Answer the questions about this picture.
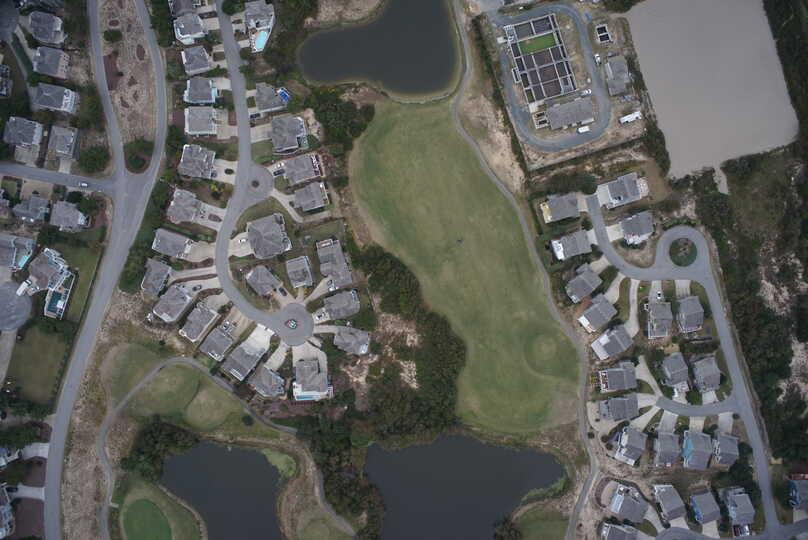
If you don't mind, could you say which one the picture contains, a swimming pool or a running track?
swimming pool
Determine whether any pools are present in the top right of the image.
No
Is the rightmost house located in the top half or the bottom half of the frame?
bottom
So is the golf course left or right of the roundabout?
to the left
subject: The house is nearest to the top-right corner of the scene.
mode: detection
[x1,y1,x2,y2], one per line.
[600,55,634,98]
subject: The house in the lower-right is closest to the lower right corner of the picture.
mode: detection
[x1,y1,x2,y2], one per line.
[780,471,808,509]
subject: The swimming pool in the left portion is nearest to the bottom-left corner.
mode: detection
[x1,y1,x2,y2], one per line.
[43,288,68,318]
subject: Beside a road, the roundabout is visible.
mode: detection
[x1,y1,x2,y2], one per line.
[656,224,711,278]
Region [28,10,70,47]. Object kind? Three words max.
house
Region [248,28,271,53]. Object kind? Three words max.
swimming pool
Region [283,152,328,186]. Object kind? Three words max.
house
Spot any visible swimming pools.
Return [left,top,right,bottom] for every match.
[279,86,292,99]
[294,388,327,401]
[43,288,68,318]
[248,28,271,53]
[17,248,33,268]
